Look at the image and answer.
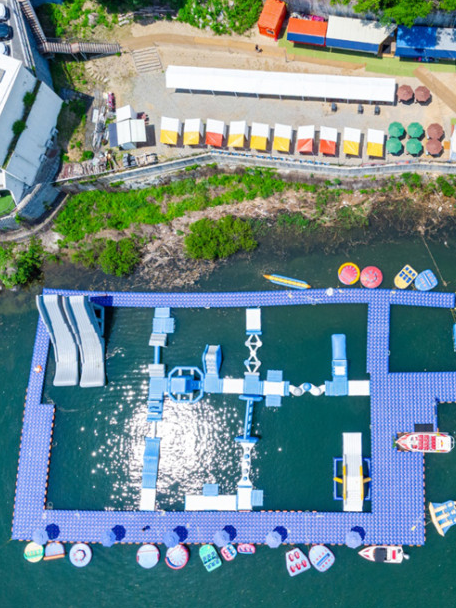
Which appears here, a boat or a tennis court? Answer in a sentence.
I can see a boat in this picture.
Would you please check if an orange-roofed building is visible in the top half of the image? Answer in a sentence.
Yes, an orange-roofed building appears in the top half of the image.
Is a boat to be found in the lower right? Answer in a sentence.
Yes, in the lower right there is a boat.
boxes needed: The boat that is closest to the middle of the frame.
[263,273,311,292]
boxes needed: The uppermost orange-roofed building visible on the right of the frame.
[287,19,327,51]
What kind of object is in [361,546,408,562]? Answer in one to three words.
boat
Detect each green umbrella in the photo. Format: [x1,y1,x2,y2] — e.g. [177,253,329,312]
[386,139,402,156]
[405,140,422,156]
[406,123,423,140]
[387,123,404,140]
